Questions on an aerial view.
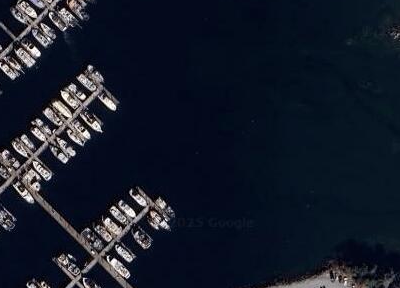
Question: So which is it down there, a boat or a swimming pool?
boat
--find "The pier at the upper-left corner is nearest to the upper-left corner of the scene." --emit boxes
[0,0,63,69]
